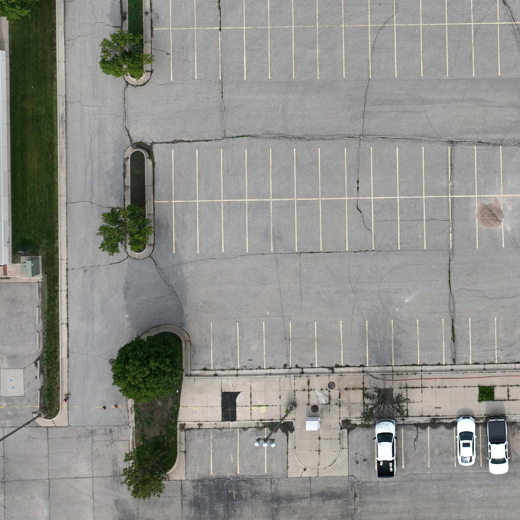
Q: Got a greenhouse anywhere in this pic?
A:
No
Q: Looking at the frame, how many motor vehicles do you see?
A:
three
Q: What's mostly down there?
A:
paved ground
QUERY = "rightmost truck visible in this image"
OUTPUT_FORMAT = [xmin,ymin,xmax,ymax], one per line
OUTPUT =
[486,415,511,473]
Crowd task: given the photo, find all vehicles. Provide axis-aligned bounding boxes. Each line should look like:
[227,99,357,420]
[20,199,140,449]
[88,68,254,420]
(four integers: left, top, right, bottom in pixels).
[454,415,478,465]
[486,415,511,473]
[372,417,399,478]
